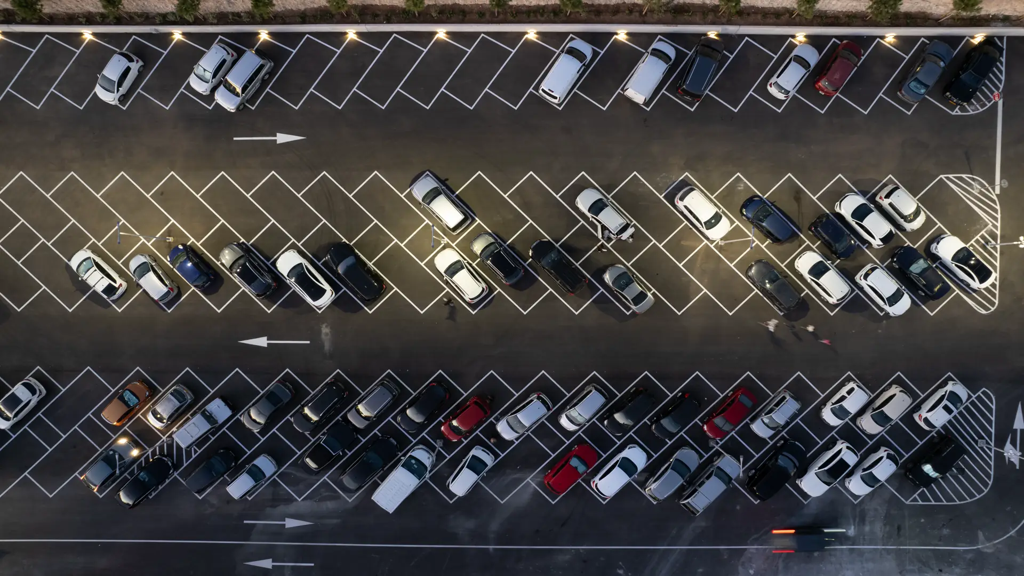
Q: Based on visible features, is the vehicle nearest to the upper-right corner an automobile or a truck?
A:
automobile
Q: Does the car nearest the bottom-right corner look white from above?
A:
No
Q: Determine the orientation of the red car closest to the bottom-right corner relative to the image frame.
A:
diagonally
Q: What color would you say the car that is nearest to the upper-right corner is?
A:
black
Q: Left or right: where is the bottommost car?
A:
right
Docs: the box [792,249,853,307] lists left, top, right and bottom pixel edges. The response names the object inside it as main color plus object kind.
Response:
white car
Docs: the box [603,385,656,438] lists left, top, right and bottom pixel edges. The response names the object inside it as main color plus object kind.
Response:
black car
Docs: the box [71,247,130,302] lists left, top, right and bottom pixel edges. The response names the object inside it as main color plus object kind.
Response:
white car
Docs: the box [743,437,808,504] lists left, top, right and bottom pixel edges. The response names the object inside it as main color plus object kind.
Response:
black car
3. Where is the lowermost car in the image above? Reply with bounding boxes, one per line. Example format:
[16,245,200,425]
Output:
[778,524,837,558]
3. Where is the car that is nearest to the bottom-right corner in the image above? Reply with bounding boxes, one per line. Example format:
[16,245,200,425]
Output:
[903,434,975,492]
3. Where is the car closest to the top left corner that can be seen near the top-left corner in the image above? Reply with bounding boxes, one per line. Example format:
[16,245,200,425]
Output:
[98,50,143,104]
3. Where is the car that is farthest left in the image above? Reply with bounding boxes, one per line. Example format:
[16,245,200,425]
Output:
[0,377,49,430]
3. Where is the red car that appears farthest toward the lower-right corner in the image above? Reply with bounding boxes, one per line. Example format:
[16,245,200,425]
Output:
[701,385,760,441]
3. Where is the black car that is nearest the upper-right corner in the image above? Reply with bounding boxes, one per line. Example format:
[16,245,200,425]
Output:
[944,38,1004,108]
